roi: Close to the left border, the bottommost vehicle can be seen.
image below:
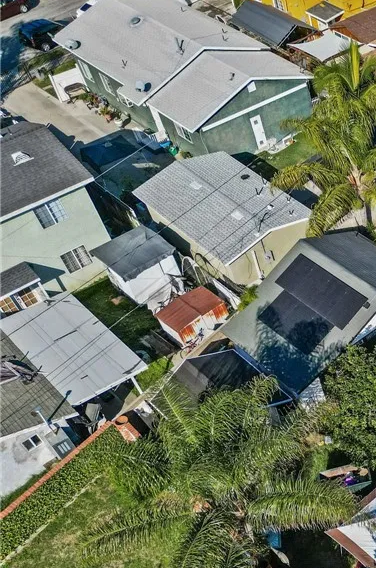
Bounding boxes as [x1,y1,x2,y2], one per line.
[0,14,69,51]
